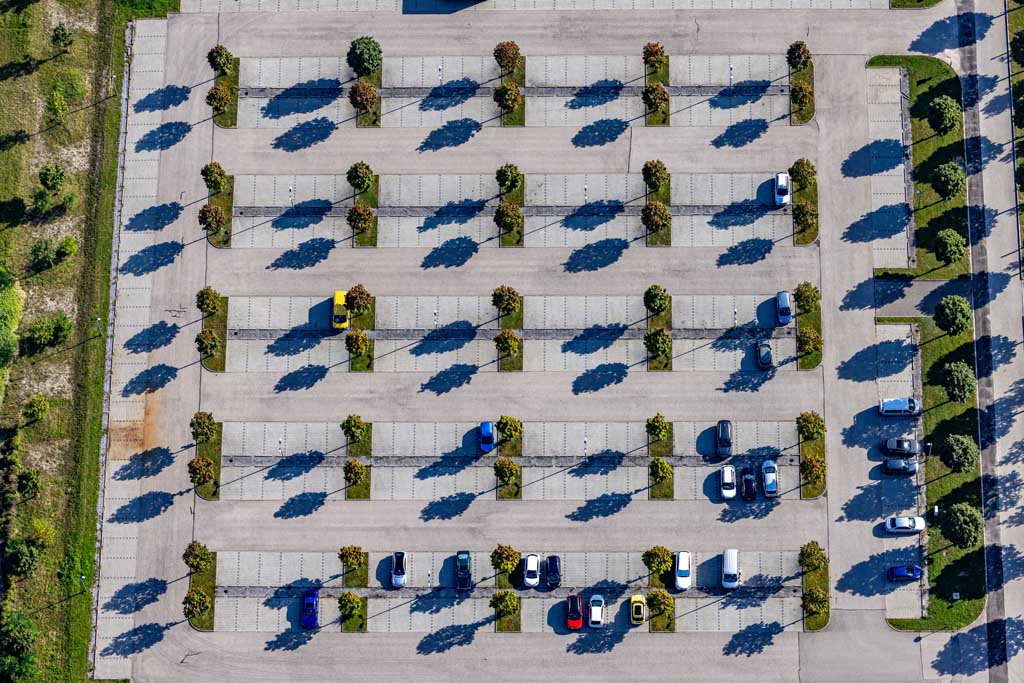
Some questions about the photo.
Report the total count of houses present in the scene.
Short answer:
none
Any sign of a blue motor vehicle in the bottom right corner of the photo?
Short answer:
Yes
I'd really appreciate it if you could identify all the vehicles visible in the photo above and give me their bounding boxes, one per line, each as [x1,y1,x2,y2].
[720,466,737,500]
[880,397,921,417]
[756,342,773,373]
[630,596,645,627]
[331,290,349,330]
[882,438,918,455]
[524,555,541,589]
[762,462,780,499]
[301,590,319,630]
[566,596,583,631]
[888,566,921,583]
[545,556,562,591]
[722,549,739,590]
[885,516,925,534]
[740,470,757,503]
[588,596,606,630]
[455,552,472,592]
[675,552,693,591]
[776,293,793,325]
[716,421,734,458]
[774,174,791,206]
[883,459,919,476]
[479,423,495,454]
[390,552,408,589]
